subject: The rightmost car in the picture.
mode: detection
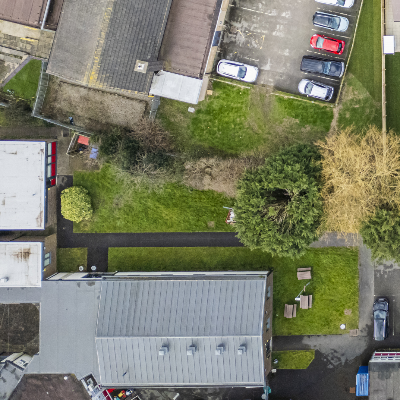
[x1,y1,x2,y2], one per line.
[372,297,390,341]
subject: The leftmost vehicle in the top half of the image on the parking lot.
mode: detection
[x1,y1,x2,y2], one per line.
[217,59,260,82]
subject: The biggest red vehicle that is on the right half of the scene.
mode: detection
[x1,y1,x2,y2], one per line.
[310,34,346,55]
